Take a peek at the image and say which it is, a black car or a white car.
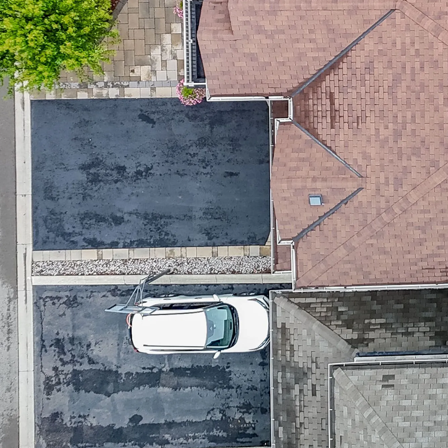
white car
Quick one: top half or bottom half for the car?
bottom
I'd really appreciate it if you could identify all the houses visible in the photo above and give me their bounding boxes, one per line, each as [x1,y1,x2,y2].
[181,0,448,289]
[252,290,448,448]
